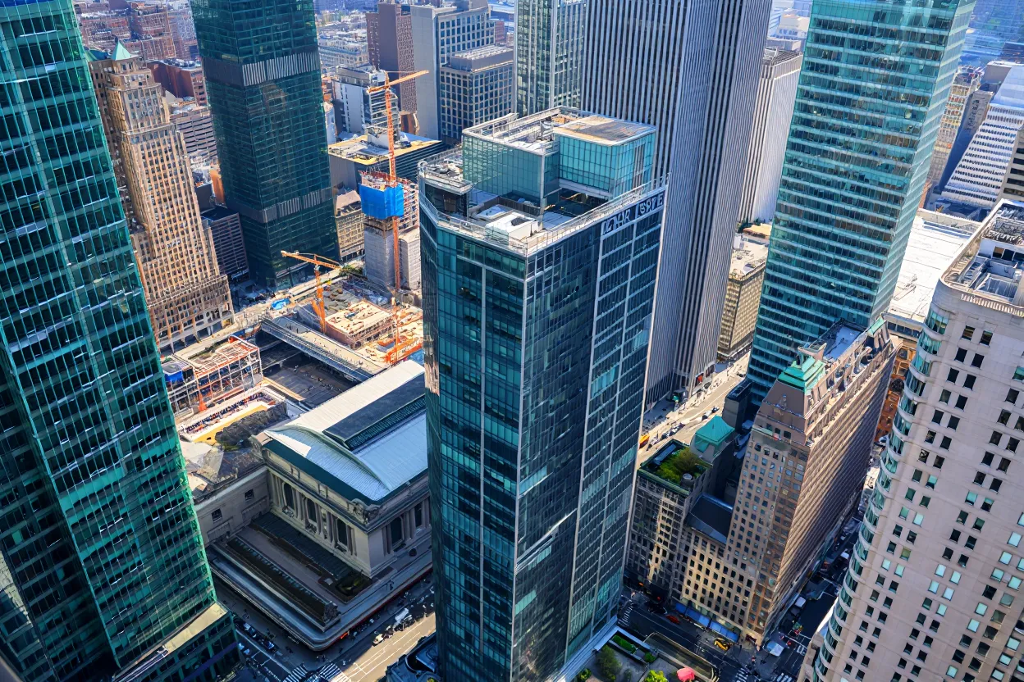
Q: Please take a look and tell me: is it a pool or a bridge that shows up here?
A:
bridge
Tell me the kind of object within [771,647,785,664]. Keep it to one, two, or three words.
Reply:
vehicle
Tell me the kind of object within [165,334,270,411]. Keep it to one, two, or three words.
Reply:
building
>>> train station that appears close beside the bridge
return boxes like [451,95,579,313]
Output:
[182,357,433,581]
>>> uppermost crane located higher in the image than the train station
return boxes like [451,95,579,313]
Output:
[368,61,429,292]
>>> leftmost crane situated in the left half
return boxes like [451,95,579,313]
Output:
[280,253,340,332]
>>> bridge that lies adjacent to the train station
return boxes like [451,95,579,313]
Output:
[254,313,389,386]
